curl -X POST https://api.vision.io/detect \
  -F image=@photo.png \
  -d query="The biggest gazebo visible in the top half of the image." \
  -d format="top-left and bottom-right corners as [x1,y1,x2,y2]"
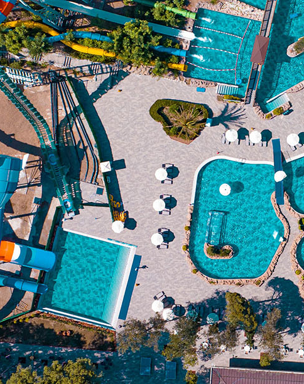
[250,34,270,64]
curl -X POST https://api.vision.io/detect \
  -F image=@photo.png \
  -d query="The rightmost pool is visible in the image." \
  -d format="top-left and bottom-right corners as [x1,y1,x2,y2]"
[257,0,304,110]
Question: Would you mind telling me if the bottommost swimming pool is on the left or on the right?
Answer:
left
